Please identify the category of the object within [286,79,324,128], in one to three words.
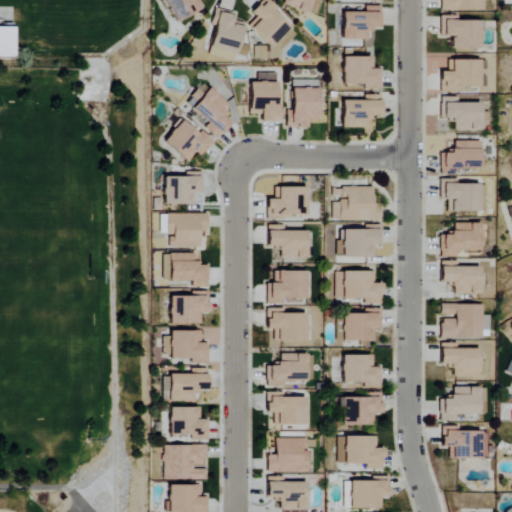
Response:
house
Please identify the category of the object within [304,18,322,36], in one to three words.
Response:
swimming pool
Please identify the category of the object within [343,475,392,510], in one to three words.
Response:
house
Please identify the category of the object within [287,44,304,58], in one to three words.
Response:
swimming pool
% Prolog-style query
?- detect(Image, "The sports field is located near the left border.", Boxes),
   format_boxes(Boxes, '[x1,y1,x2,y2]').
[0,69,110,484]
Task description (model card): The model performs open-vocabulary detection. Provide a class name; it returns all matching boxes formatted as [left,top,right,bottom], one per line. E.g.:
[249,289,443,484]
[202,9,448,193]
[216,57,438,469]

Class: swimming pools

[165,78,186,92]
[311,488,322,508]
[466,470,490,482]
[159,36,180,49]
[156,168,166,182]
[332,486,342,502]
[156,102,166,121]
[500,500,512,512]
[304,18,322,36]
[484,28,494,44]
[233,69,250,80]
[326,322,336,345]
[287,44,304,58]
[153,485,164,508]
[500,462,512,474]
